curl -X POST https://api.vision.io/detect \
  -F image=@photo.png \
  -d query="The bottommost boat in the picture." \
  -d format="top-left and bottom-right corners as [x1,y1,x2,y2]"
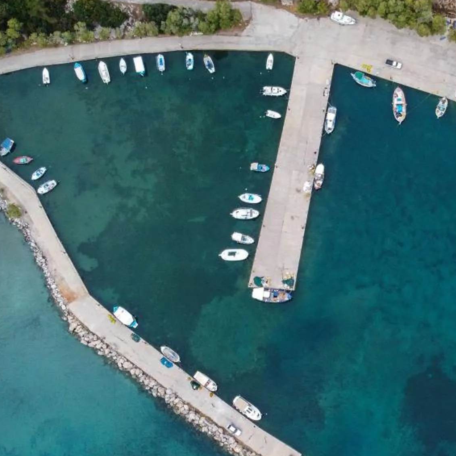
[233,396,261,417]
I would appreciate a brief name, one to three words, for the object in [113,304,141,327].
boat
